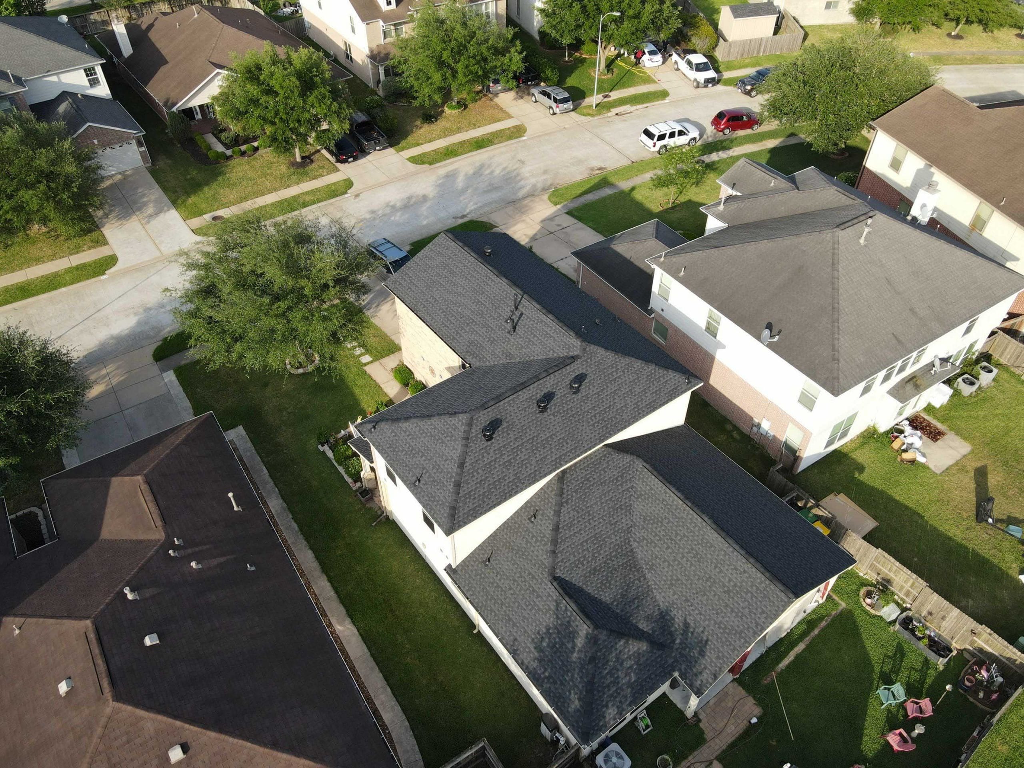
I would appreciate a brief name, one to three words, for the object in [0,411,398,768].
house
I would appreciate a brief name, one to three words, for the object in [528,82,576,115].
car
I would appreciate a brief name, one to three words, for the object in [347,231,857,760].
house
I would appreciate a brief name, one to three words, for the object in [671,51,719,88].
truck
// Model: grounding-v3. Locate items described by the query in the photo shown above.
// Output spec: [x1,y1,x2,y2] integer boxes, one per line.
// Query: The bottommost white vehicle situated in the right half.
[638,119,704,156]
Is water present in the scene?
No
